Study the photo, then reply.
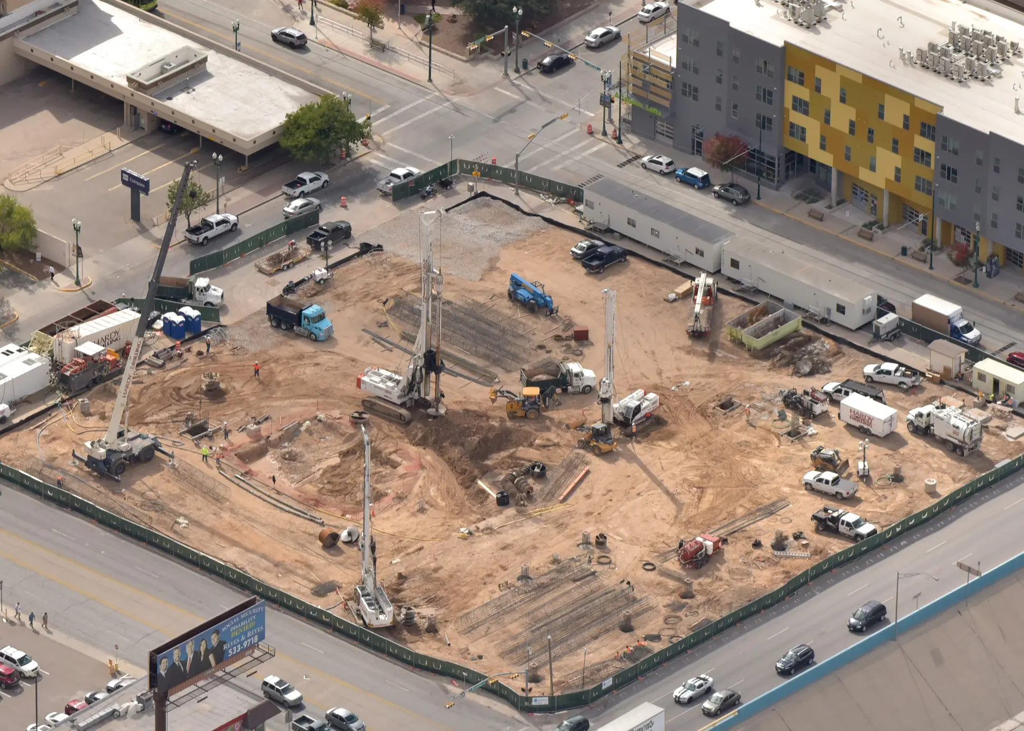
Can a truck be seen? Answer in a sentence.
Yes, the photo shows a truck.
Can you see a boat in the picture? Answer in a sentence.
No, the photo shows no boat.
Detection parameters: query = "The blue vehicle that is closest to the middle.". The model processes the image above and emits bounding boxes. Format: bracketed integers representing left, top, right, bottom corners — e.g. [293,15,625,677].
[505,269,562,320]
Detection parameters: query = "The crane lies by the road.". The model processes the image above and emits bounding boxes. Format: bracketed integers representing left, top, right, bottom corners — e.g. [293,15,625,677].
[72,156,202,484]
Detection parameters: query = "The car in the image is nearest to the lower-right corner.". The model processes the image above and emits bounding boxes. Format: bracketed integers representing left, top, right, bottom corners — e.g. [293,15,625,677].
[847,599,889,632]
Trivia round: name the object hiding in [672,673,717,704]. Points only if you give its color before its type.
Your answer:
white car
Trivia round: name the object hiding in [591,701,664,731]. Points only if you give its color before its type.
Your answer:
white trailer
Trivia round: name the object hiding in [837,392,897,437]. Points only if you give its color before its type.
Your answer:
white trailer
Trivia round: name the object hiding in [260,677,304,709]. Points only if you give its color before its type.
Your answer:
gray car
